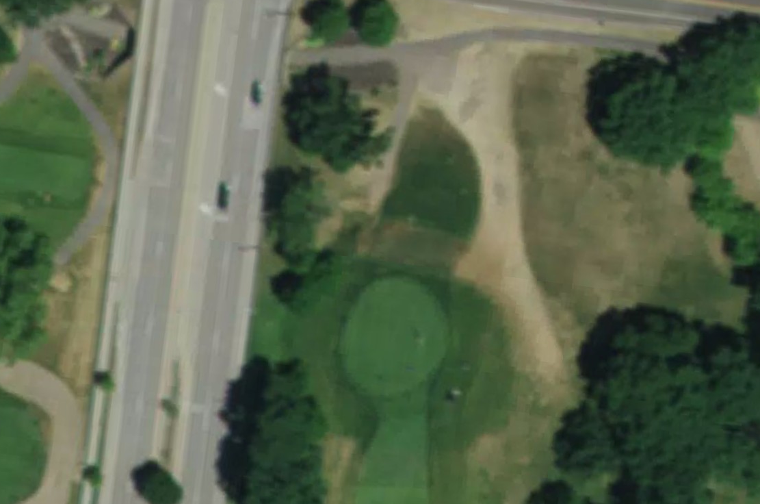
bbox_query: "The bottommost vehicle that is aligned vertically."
[216,181,230,210]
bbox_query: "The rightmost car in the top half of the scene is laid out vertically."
[249,78,263,105]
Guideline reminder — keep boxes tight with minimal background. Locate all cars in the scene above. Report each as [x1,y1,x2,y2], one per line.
[249,78,263,105]
[216,181,230,210]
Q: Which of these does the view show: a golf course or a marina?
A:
golf course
